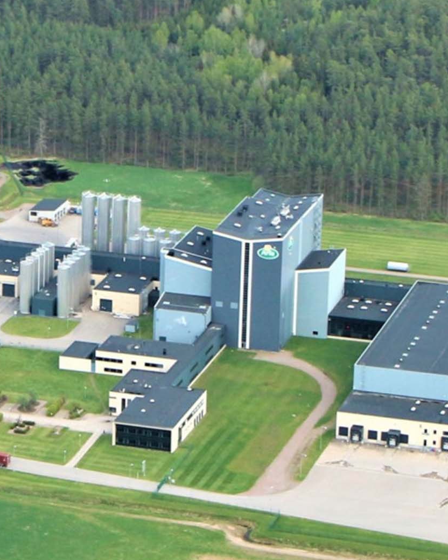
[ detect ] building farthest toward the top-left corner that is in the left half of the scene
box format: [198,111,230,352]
[29,198,68,222]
